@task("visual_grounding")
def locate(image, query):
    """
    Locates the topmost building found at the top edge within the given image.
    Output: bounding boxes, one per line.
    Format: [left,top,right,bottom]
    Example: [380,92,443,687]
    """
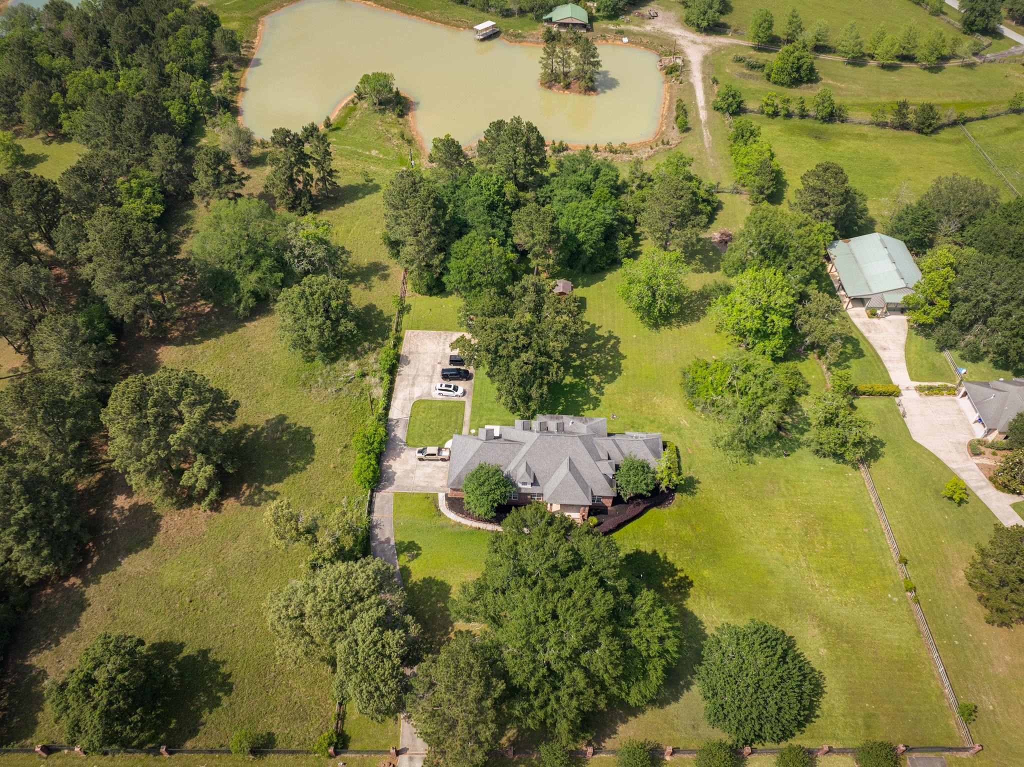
[541,8,592,35]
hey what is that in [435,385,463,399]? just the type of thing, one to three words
car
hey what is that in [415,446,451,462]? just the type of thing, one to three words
vehicle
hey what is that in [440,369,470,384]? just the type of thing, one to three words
car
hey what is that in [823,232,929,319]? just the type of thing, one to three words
barn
